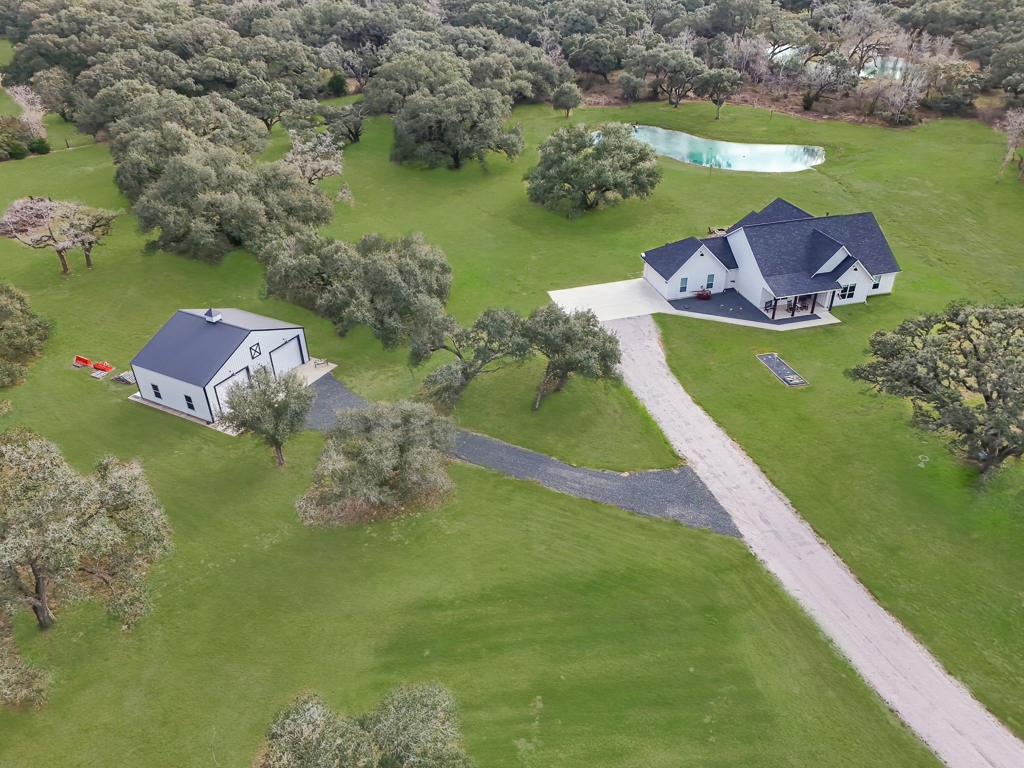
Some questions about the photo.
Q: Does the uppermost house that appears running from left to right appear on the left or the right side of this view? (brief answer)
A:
right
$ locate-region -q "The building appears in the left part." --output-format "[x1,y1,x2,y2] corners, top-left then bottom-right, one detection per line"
[129,308,310,423]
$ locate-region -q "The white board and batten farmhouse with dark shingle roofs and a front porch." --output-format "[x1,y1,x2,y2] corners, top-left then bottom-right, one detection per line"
[640,197,903,319]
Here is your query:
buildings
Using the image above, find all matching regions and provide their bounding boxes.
[129,308,310,423]
[640,197,903,319]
